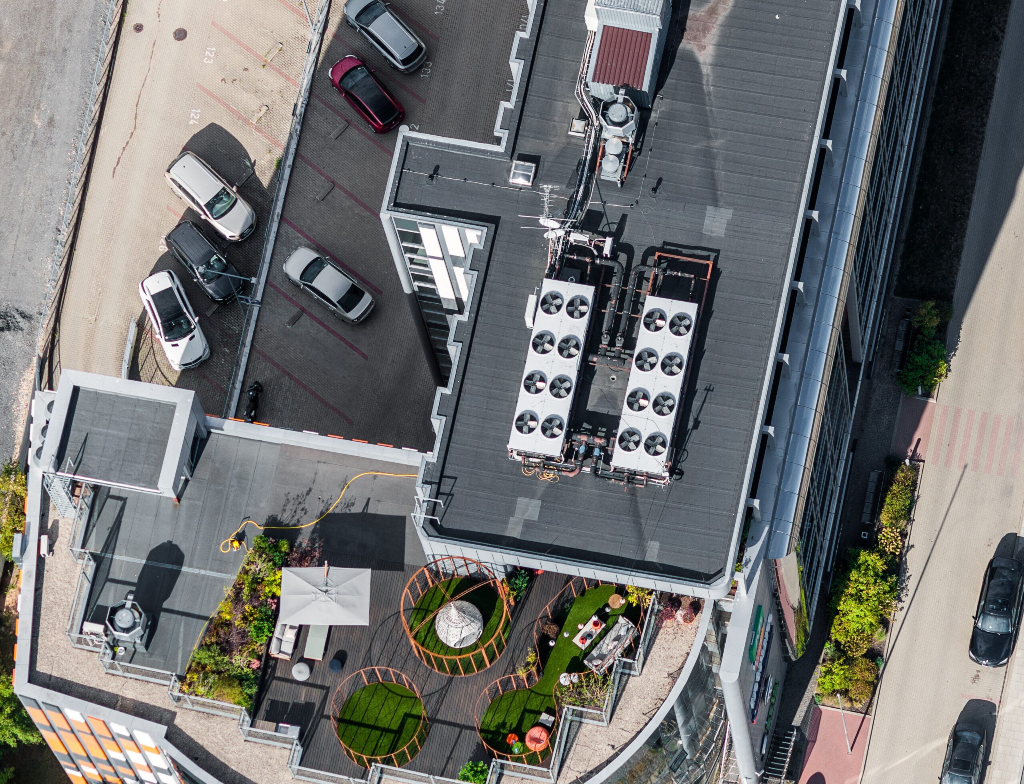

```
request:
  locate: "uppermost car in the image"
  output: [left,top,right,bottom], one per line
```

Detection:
[345,0,429,77]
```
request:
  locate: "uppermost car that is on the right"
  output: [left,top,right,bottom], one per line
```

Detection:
[969,557,1024,669]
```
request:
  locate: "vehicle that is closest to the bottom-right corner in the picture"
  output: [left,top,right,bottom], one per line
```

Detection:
[937,724,989,784]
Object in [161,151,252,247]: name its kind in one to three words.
car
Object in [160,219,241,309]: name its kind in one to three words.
car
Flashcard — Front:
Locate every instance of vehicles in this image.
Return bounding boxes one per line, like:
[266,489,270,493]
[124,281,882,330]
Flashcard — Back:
[160,219,241,309]
[245,380,262,422]
[345,0,429,77]
[280,248,377,326]
[141,268,210,373]
[969,557,1024,669]
[328,55,405,136]
[937,724,989,784]
[161,151,252,247]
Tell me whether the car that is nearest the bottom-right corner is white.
No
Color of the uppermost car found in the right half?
black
